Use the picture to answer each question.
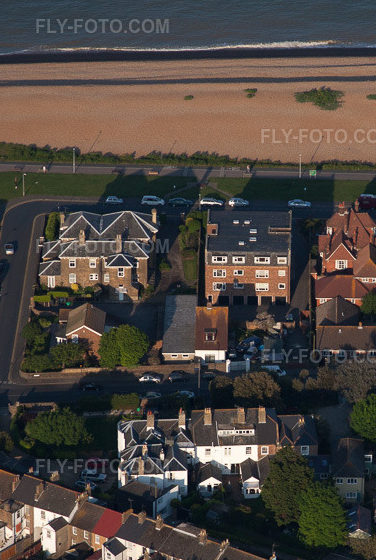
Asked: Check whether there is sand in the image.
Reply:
Yes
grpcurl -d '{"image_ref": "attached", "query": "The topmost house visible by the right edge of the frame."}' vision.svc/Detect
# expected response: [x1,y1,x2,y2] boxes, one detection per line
[313,198,376,301]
